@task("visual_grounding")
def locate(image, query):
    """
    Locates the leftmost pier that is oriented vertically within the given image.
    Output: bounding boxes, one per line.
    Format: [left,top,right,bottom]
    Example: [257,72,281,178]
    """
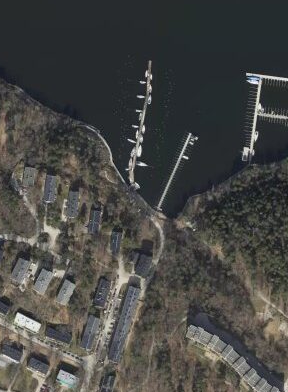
[130,60,151,189]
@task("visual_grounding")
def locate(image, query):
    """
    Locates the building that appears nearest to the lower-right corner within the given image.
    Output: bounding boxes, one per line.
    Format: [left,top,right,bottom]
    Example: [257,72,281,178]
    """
[185,325,279,392]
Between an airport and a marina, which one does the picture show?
marina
